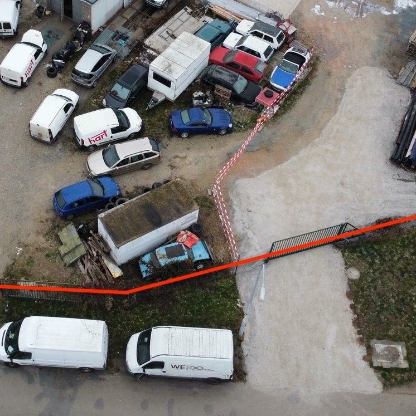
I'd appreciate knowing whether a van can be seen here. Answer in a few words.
Yes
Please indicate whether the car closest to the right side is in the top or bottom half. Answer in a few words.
top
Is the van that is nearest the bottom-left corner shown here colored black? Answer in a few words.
No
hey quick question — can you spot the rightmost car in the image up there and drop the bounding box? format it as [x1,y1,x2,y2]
[271,46,311,94]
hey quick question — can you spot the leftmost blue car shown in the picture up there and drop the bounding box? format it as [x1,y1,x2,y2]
[53,175,121,219]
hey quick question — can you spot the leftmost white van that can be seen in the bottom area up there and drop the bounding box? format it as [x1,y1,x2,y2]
[0,311,111,375]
